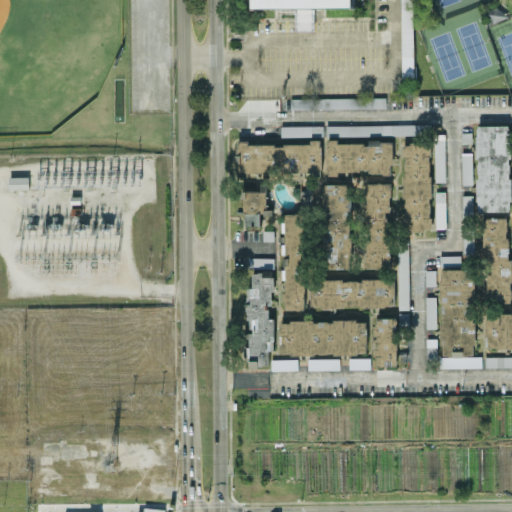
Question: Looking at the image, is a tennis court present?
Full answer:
Yes, you can see a tennis court in this photo.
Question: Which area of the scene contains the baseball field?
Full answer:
The baseball field is in the top left part of the image.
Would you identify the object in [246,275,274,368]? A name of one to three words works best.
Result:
building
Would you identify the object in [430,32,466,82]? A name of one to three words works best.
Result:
tennis court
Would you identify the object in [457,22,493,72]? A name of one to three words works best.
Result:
tennis court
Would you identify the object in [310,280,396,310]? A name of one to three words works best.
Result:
building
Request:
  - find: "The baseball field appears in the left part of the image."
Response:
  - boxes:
[0,0,123,136]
